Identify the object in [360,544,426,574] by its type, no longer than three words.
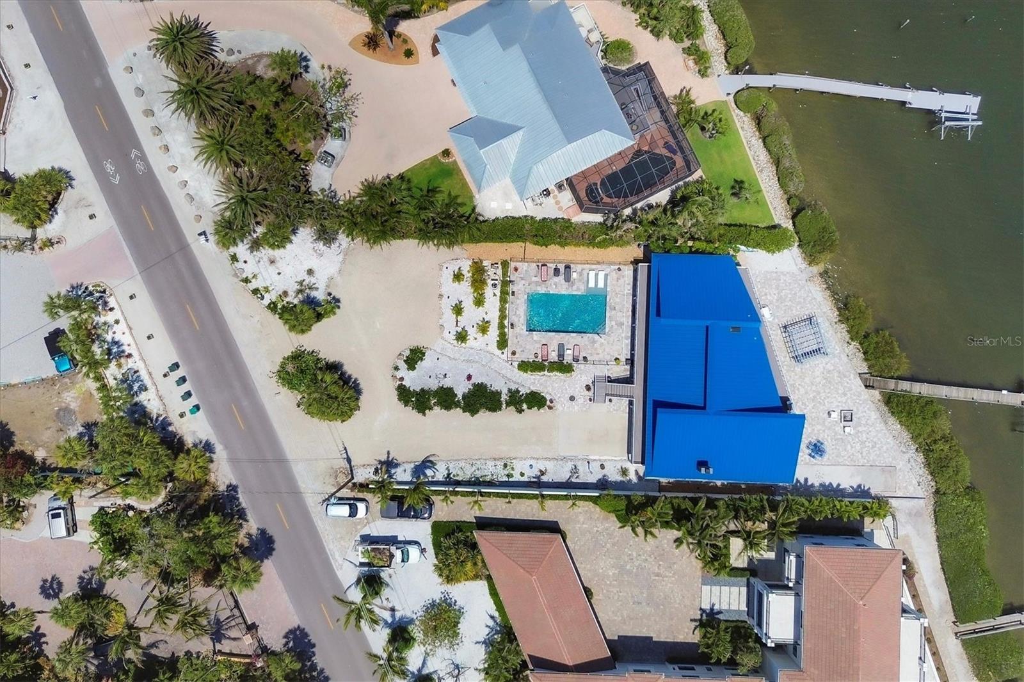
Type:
truck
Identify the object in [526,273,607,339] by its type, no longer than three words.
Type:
swimming pool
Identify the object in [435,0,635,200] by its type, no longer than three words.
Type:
house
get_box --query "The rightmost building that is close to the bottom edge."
[750,537,930,682]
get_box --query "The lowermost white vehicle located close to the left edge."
[47,497,75,541]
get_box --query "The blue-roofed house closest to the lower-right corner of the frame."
[629,253,805,484]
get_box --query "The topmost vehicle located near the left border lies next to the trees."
[35,330,75,374]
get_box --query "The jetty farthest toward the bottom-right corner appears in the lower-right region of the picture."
[952,609,1024,641]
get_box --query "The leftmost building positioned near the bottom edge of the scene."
[473,529,618,682]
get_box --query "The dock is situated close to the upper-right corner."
[716,52,981,114]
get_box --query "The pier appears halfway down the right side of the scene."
[858,373,1024,409]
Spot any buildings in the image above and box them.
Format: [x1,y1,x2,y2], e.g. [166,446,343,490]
[473,529,618,682]
[629,253,805,484]
[435,0,635,200]
[750,537,930,682]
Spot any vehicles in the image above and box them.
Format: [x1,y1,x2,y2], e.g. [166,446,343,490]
[326,500,370,521]
[360,544,426,574]
[47,497,75,541]
[35,330,75,374]
[380,499,434,522]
